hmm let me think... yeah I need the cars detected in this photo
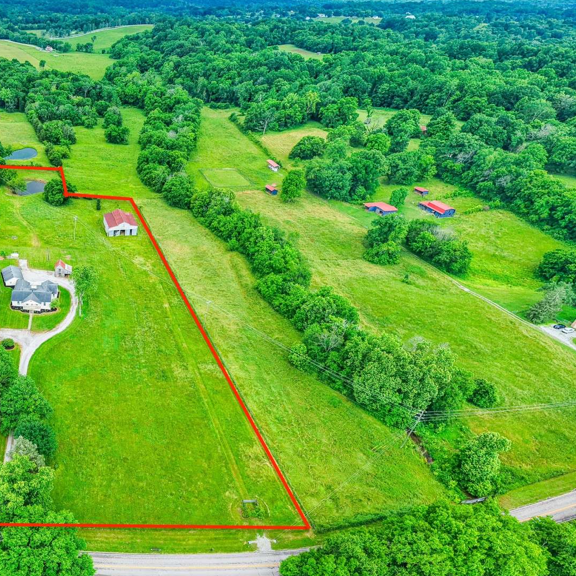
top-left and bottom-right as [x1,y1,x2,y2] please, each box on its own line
[564,329,575,334]
[555,324,567,330]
